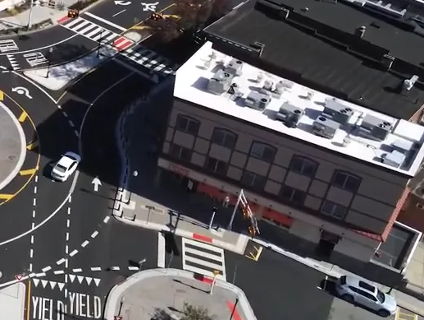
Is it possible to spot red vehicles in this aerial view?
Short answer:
No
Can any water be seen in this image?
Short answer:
No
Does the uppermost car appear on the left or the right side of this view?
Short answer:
left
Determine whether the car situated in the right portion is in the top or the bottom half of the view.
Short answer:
bottom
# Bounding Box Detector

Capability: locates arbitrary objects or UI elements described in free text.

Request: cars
[50,151,80,180]
[340,273,401,317]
